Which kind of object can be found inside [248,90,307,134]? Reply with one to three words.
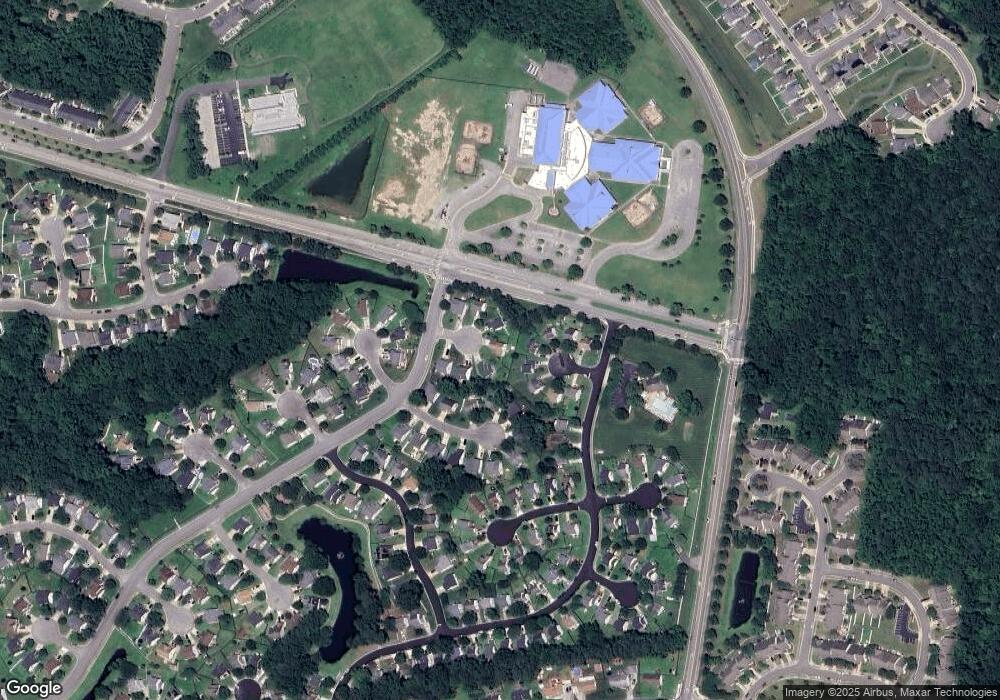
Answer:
building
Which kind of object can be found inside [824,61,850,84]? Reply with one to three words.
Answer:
house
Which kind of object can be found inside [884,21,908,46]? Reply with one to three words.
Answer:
house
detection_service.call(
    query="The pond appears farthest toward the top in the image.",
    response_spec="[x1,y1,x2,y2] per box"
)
[311,141,372,203]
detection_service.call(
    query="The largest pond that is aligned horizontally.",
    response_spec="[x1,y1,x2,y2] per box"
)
[277,250,418,297]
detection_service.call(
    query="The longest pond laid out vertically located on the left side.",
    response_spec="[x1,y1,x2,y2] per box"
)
[298,515,355,662]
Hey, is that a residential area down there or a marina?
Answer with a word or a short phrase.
residential area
